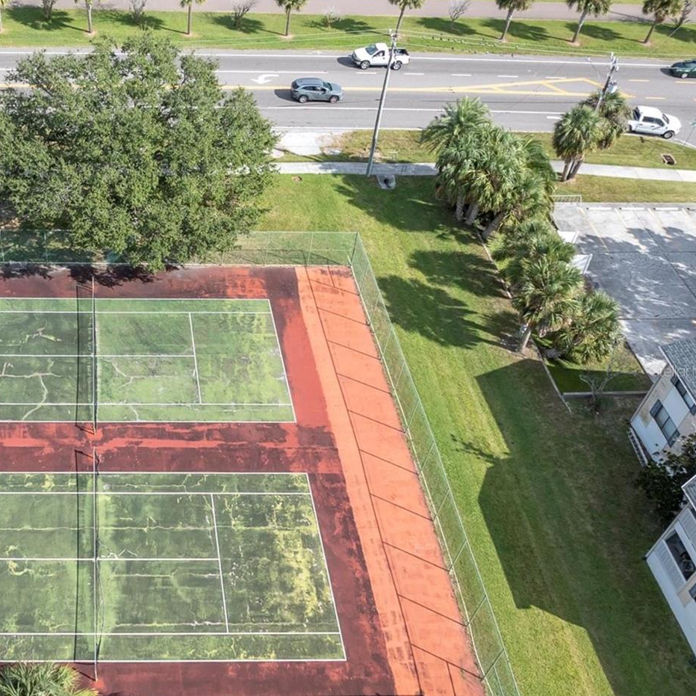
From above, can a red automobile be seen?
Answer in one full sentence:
No, there appears to be no red automobile in this shot.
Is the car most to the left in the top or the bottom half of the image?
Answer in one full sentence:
Seen from above, the car most to the left lies in the top half of the view.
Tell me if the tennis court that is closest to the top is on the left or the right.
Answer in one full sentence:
It is on the left.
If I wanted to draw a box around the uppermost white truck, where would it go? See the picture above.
[348,42,411,70]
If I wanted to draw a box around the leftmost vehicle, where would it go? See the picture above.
[291,76,347,103]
